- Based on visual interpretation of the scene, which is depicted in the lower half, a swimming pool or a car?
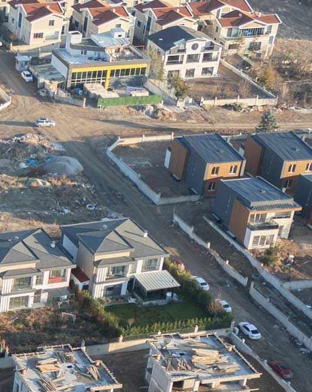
car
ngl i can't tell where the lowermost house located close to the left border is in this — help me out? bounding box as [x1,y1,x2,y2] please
[0,227,79,312]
